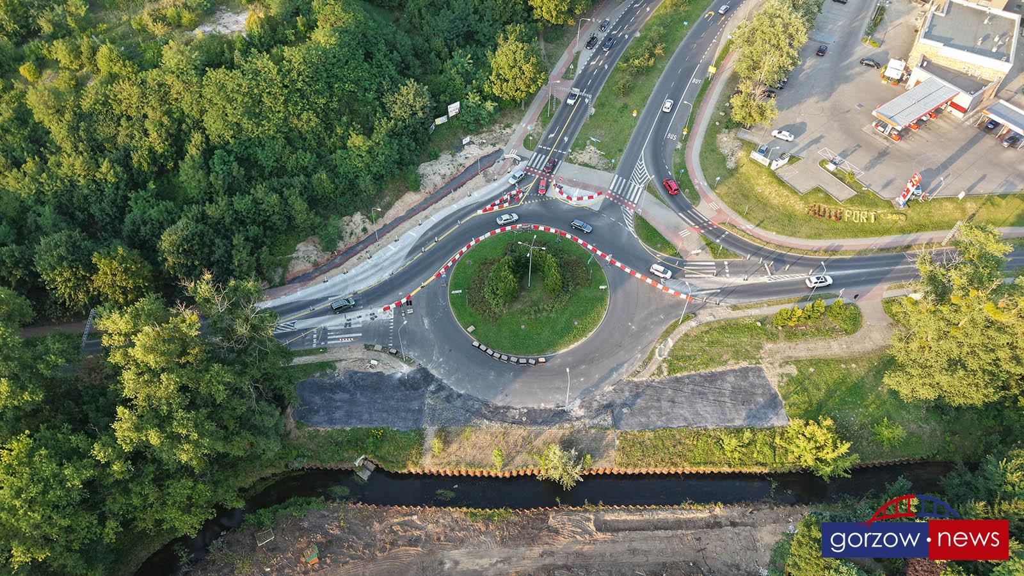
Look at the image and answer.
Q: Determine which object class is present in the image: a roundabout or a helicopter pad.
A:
roundabout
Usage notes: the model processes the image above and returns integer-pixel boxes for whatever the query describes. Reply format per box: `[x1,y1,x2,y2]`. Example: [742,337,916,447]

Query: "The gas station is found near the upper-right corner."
[737,0,1024,204]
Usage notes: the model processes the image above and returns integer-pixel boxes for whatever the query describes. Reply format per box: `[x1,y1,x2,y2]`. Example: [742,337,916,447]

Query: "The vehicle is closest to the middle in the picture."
[496,213,519,226]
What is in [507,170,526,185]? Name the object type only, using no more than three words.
car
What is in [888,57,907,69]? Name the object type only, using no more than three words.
umbrella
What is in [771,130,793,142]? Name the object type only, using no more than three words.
vehicle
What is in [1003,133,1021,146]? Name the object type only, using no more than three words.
vehicle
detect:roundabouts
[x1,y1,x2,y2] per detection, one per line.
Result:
[409,224,682,406]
